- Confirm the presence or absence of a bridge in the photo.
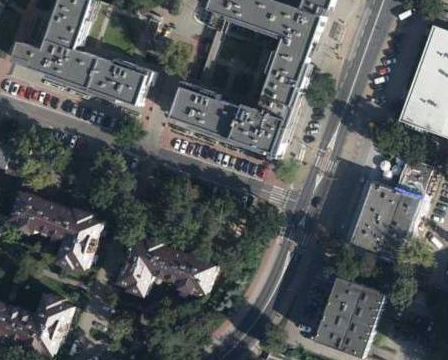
No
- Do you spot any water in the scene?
No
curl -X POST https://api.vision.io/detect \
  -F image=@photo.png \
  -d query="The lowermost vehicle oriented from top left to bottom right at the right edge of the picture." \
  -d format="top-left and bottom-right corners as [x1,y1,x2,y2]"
[427,232,443,248]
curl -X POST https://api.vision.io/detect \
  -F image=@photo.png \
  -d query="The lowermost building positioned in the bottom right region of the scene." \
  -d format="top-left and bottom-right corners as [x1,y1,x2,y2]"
[317,276,385,358]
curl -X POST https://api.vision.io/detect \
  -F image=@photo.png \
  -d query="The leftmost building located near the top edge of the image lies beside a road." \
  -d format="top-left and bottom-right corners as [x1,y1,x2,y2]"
[11,0,154,113]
